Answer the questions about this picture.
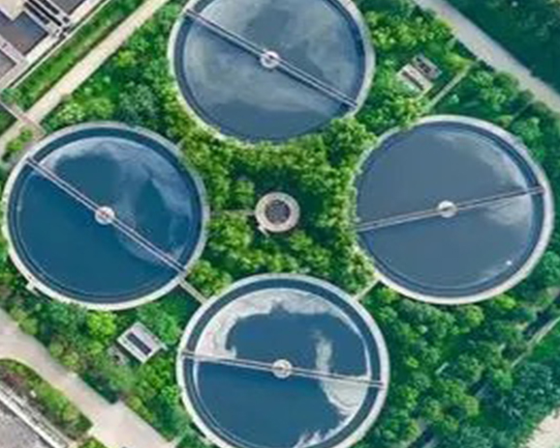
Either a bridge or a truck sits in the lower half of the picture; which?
bridge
